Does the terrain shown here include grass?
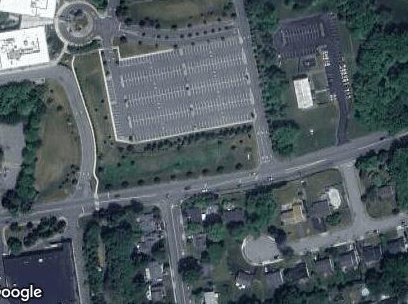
Yes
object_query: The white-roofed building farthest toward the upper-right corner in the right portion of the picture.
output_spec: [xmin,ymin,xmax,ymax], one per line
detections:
[294,78,313,109]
